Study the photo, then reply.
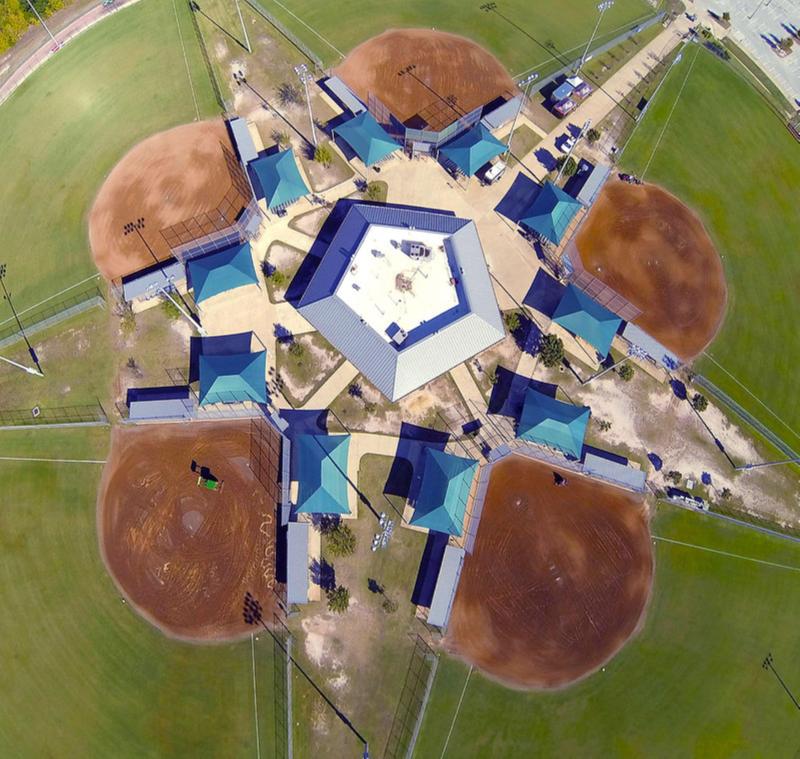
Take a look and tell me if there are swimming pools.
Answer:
No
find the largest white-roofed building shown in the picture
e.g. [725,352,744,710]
[298,205,505,402]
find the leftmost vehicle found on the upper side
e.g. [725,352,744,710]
[483,159,508,184]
